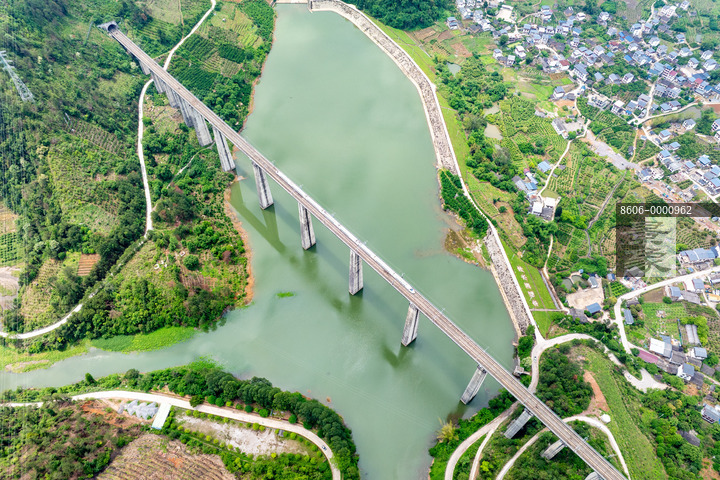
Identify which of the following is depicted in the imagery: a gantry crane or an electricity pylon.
electricity pylon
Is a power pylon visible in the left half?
Yes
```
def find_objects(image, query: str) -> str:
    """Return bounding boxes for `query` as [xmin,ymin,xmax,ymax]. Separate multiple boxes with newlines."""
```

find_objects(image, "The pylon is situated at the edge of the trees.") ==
[2,66,33,105]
